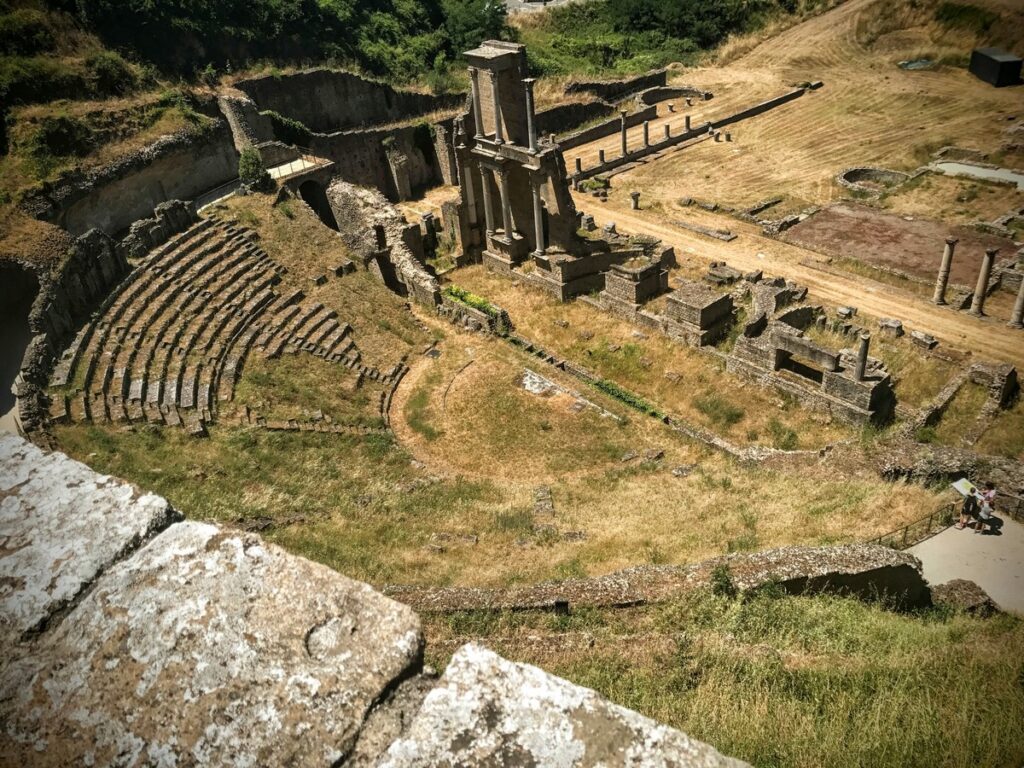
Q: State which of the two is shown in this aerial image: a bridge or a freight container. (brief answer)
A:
bridge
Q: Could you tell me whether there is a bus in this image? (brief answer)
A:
No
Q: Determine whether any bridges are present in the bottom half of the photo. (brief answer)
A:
No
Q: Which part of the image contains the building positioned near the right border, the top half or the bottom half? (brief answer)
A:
top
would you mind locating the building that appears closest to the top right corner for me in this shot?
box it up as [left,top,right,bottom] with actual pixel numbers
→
[970,42,1024,87]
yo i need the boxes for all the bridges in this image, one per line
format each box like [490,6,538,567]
[278,136,337,223]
